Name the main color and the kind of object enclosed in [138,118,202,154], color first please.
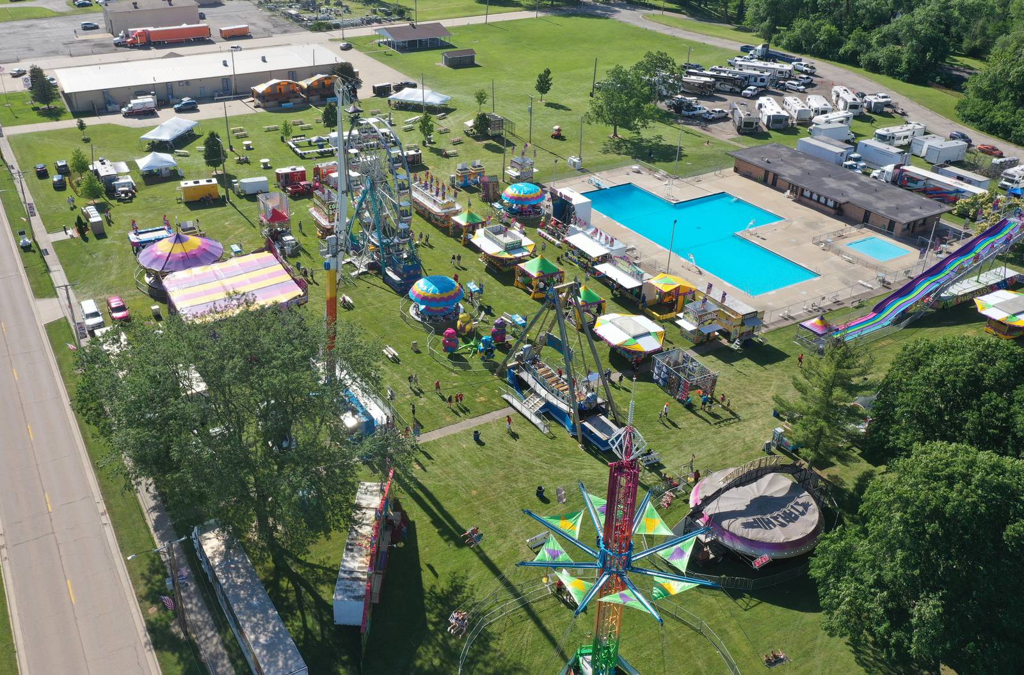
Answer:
white tent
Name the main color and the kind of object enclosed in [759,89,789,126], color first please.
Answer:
white vehicle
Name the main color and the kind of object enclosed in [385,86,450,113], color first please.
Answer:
white tent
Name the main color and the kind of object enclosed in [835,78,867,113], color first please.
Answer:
white vehicle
